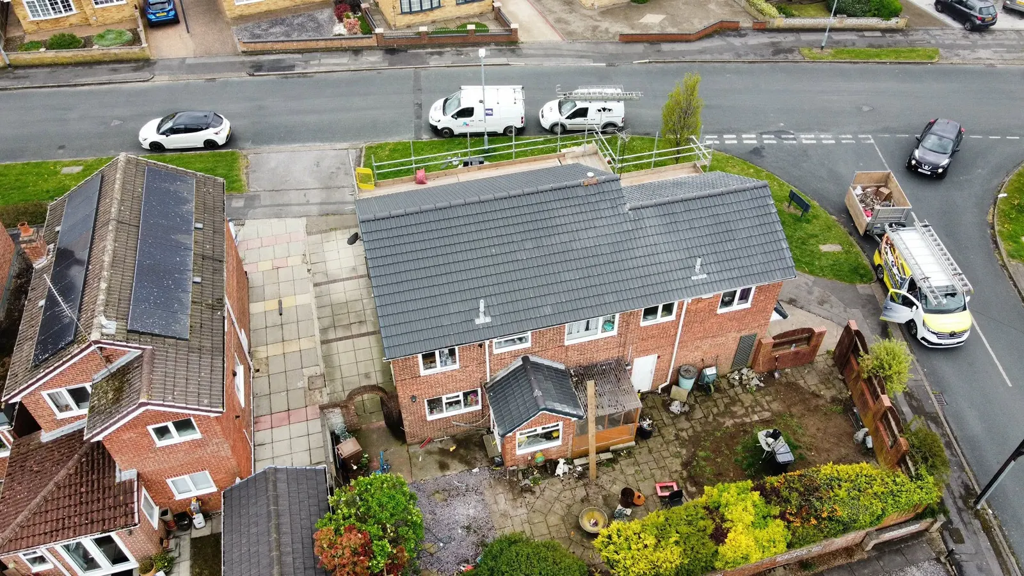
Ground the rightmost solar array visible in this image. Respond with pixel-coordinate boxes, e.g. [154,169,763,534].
[130,164,197,338]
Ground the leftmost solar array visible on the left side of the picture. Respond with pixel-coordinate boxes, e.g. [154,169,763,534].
[25,172,98,368]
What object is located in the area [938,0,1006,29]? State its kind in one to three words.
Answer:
car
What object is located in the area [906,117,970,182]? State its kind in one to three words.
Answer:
car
